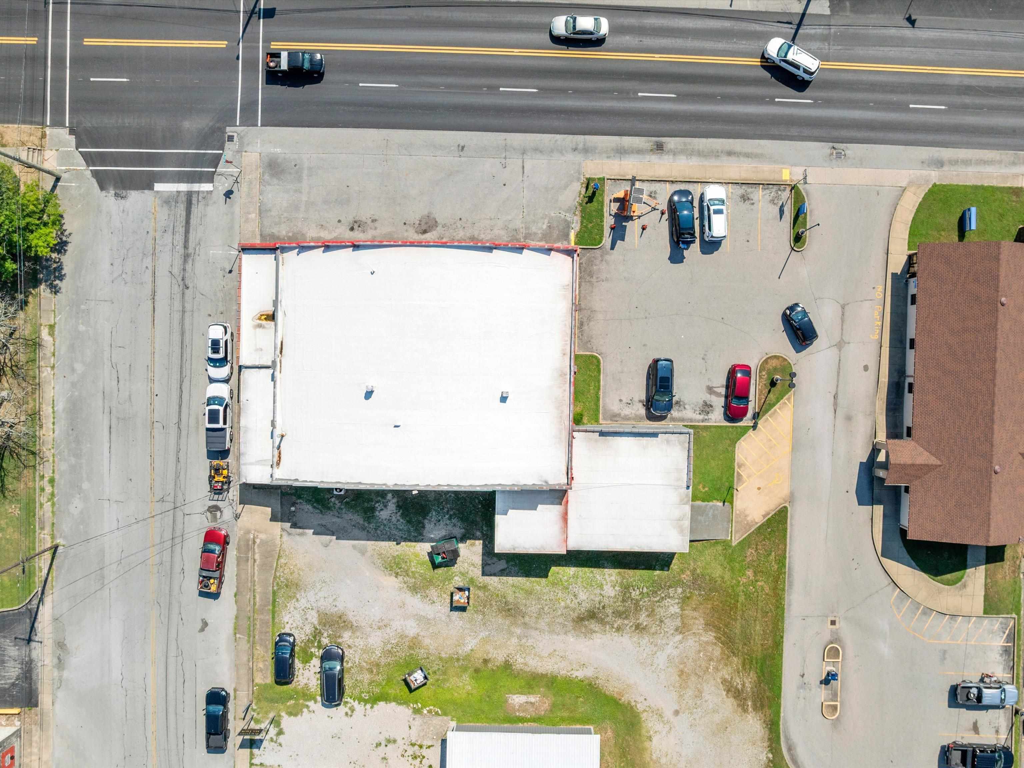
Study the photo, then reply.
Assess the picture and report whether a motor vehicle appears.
Yes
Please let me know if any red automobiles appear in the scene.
Yes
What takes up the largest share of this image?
paved ground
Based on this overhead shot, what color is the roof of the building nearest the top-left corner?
white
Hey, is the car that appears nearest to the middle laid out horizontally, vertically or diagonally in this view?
vertically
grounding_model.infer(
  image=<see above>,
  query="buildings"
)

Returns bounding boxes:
[446,725,600,768]
[236,238,579,493]
[0,727,23,768]
[874,240,1024,546]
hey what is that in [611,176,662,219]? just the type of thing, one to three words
trailer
